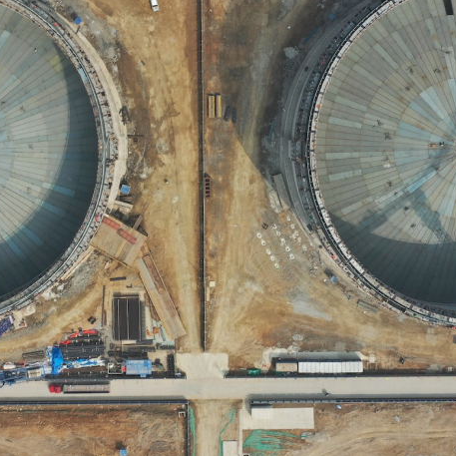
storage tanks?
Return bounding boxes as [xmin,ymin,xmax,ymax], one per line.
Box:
[0,0,126,315]
[280,0,456,328]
